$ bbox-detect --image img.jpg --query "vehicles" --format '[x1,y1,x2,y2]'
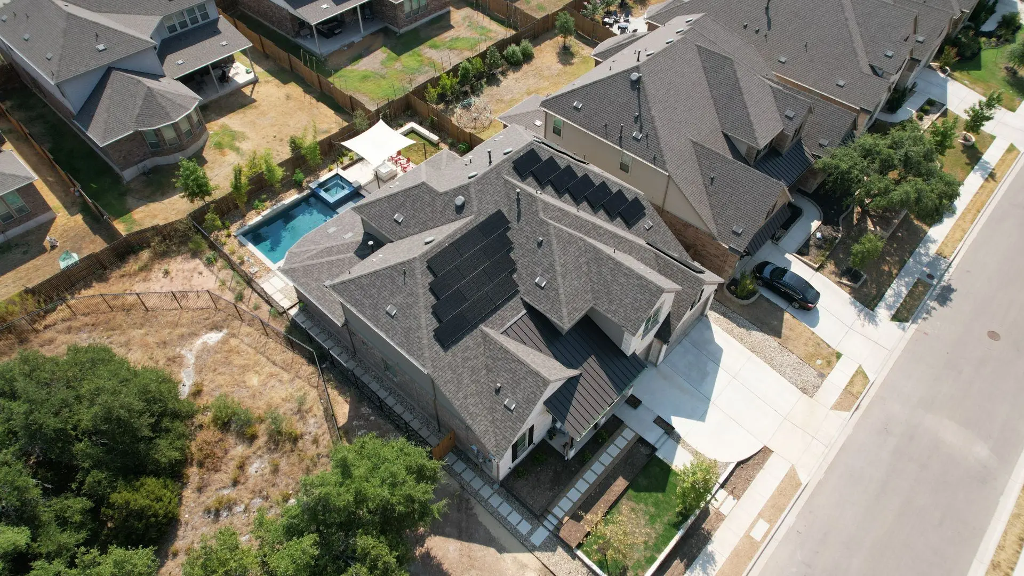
[751,260,828,309]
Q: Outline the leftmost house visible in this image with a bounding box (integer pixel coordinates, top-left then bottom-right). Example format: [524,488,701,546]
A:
[0,149,57,246]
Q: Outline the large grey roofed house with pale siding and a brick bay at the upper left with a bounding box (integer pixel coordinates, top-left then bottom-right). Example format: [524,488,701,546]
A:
[0,0,259,182]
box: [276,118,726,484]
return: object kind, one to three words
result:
house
